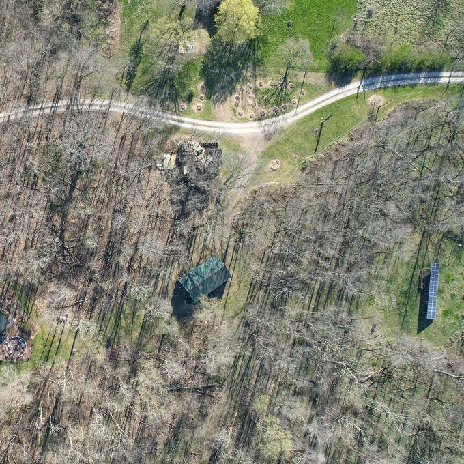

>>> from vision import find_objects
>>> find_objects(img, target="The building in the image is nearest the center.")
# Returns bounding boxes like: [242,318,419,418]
[176,253,230,303]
